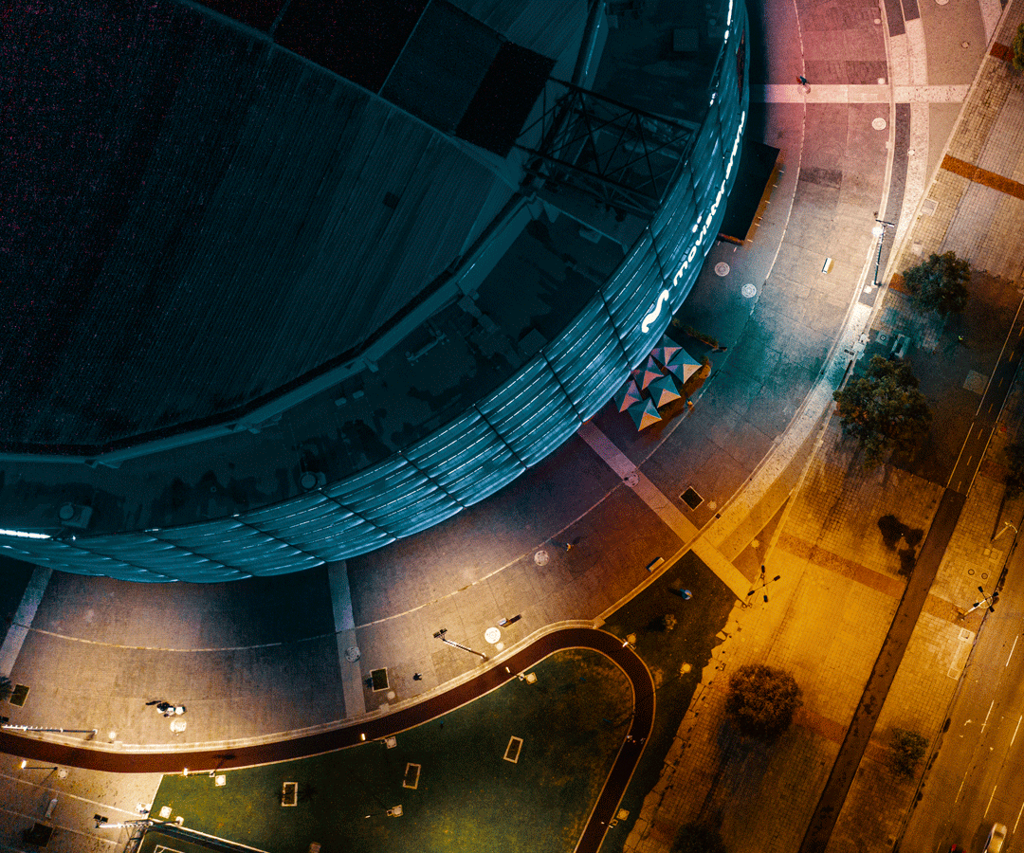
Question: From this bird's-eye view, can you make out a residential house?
No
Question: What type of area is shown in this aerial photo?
sports ground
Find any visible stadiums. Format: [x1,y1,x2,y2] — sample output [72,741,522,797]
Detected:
[0,0,755,589]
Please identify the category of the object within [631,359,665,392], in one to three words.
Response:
tent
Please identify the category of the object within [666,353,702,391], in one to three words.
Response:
tent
